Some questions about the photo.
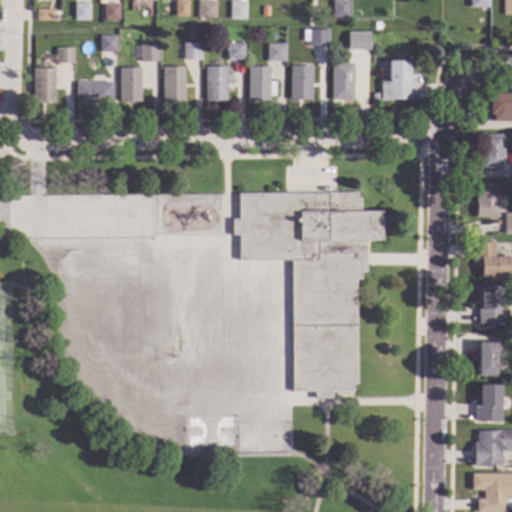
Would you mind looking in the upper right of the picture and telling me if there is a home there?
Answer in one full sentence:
Yes, a home shows up in the upper right of the picture.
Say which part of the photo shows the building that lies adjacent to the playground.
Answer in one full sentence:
The building that lies adjacent to the playground is located in the center region of the scene.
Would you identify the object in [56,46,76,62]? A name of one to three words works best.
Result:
building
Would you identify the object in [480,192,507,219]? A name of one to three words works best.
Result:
house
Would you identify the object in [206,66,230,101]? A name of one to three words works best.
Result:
house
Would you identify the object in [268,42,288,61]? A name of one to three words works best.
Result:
building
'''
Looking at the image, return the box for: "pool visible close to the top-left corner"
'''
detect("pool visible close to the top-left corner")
[81,40,96,56]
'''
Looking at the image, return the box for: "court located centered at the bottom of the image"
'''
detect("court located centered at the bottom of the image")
[180,416,239,453]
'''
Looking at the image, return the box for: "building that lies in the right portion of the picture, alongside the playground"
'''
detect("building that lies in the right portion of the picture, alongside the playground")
[233,192,386,398]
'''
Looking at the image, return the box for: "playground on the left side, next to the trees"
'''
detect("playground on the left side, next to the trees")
[158,196,223,234]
